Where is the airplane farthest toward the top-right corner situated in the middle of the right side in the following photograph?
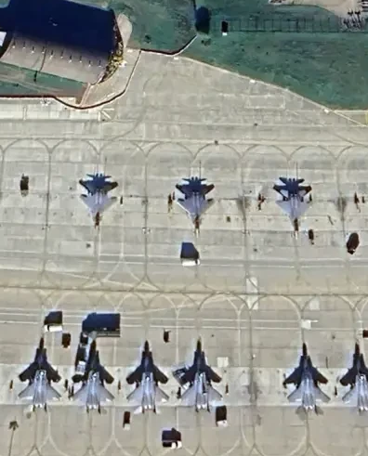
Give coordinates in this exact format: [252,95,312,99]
[274,182,313,239]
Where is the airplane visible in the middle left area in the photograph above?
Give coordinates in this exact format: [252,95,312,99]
[79,178,117,234]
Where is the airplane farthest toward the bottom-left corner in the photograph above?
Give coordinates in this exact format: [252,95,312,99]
[19,355,60,420]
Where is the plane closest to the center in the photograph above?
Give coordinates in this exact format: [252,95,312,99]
[175,178,215,237]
